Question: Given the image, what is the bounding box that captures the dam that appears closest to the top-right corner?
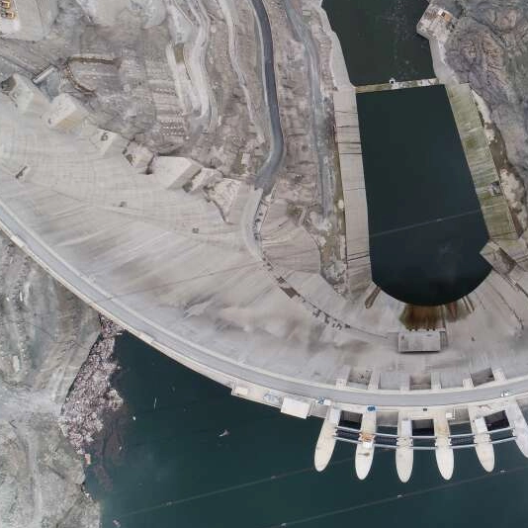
[353,78,442,91]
